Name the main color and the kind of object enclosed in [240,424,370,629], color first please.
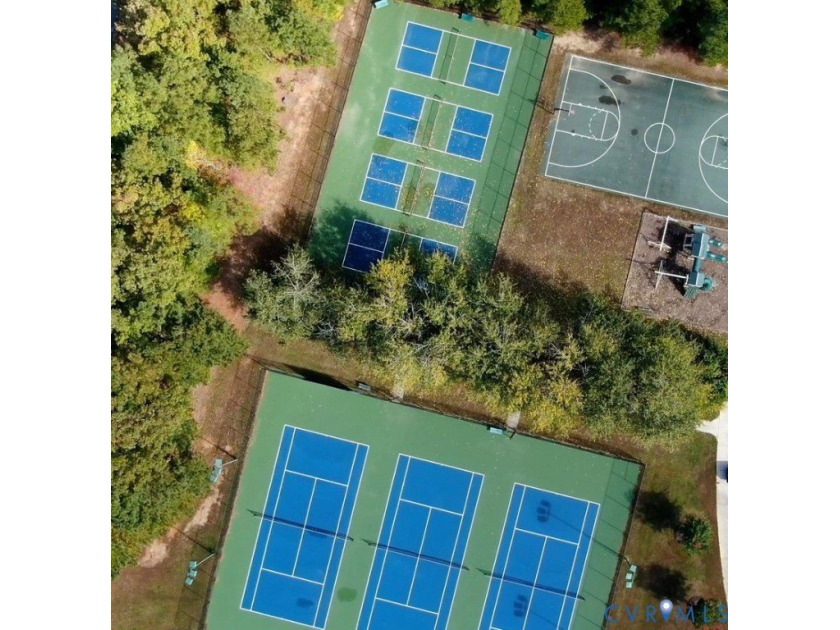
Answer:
blue tennis court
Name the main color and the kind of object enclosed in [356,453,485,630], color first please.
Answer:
blue tennis court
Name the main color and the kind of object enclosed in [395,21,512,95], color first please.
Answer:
blue sports court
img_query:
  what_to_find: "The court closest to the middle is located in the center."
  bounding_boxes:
[345,221,460,291]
